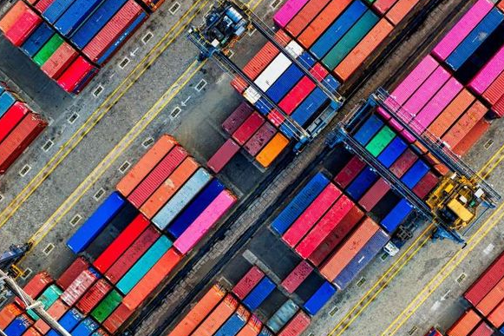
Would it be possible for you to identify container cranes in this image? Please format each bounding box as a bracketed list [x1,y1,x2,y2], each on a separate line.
[185,0,347,152]
[334,89,502,246]
[0,236,79,336]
